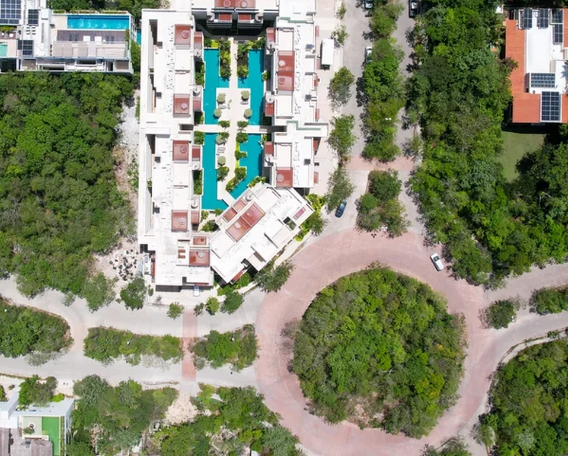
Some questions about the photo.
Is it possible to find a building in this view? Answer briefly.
Yes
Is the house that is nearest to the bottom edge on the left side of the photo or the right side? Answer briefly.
left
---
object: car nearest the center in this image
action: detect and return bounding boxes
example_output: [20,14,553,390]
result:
[336,200,348,218]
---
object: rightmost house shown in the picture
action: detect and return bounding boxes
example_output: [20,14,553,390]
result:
[498,9,568,122]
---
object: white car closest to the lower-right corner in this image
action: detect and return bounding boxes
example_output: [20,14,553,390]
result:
[429,251,444,271]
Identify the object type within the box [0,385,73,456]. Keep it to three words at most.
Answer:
house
